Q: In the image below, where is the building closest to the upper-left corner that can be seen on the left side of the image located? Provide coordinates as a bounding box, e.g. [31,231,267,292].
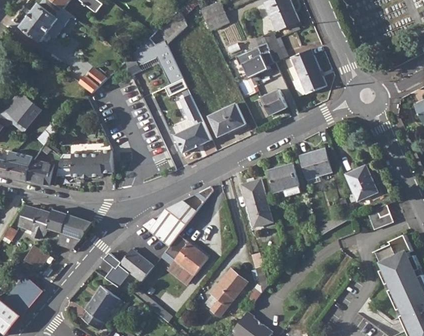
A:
[18,2,56,41]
